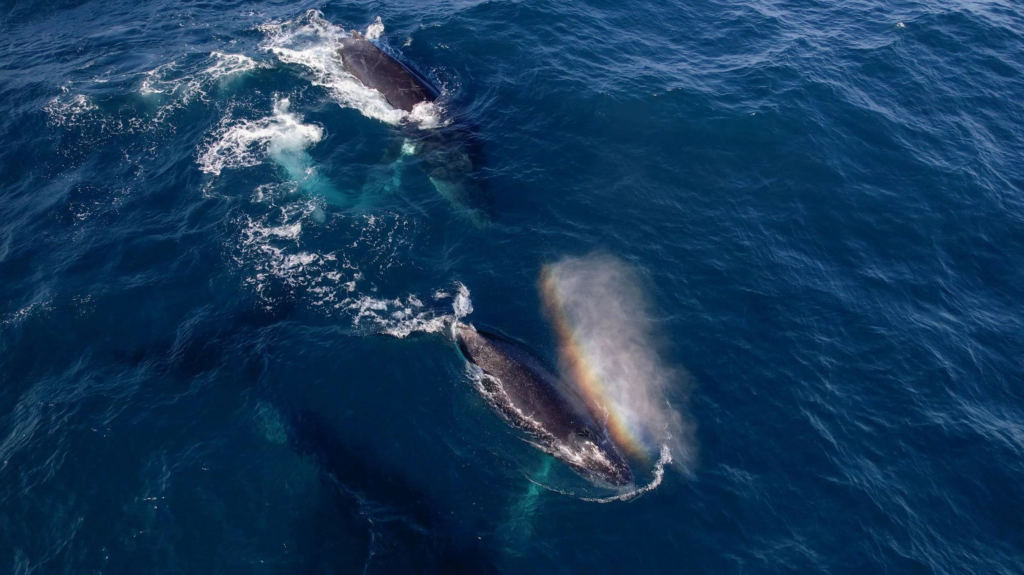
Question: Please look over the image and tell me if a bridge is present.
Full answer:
No, I can't see a single bridge in this photo.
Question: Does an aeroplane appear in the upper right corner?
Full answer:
No, there's no aeroplane to be seen in the upper right corner.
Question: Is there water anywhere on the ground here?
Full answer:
Yes, there is water in the image.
